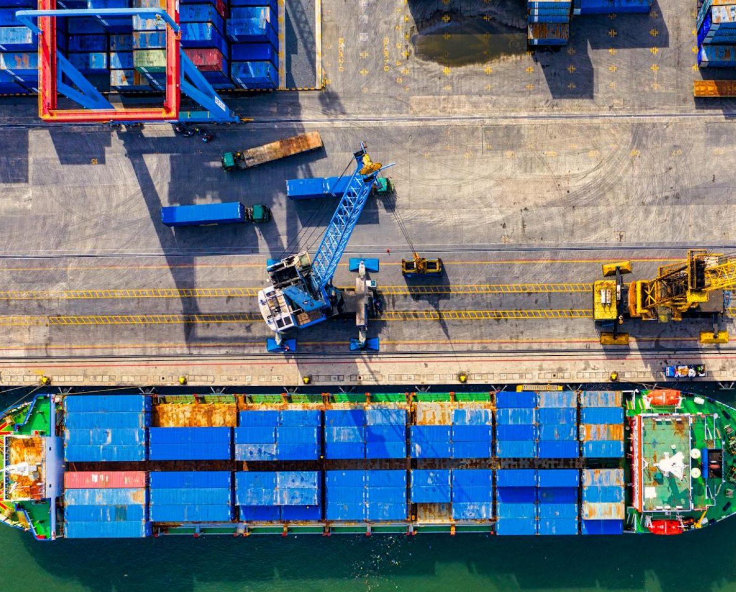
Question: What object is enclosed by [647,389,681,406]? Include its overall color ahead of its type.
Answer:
orange boat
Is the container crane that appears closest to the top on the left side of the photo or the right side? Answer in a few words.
left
